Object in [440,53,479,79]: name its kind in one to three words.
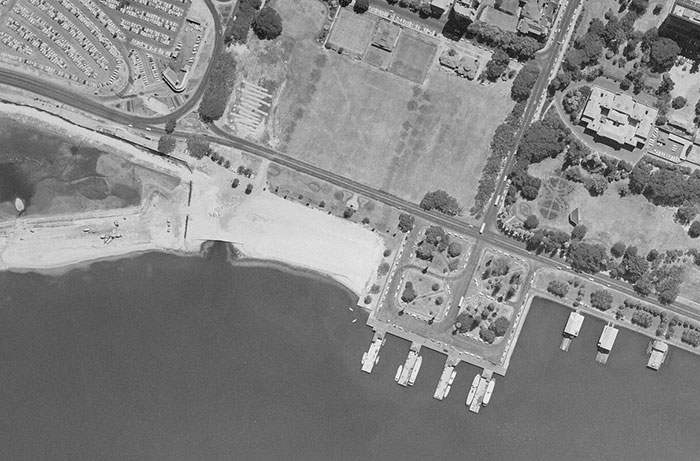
building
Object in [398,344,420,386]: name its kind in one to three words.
pier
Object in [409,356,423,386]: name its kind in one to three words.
vessel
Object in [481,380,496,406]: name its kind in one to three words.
vessel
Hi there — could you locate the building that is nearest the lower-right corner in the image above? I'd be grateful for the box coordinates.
[645,337,669,371]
